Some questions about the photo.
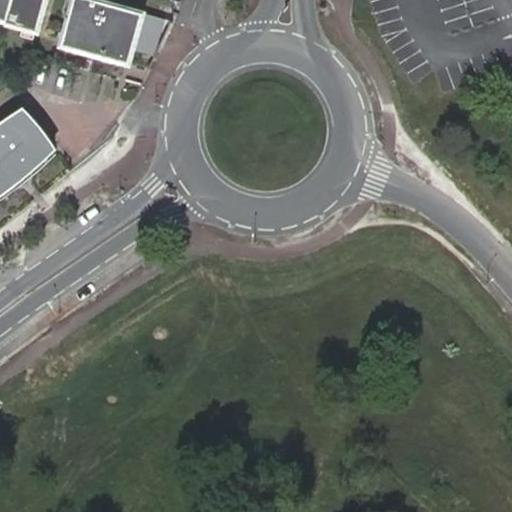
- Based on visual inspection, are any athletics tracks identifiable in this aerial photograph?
No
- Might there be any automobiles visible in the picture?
Yes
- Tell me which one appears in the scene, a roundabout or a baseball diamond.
roundabout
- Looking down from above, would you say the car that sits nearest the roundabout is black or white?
white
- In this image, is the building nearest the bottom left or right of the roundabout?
on its left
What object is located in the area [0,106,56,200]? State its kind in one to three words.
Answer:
building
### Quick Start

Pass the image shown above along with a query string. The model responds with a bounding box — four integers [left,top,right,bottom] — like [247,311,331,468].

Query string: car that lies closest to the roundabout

[77,205,100,225]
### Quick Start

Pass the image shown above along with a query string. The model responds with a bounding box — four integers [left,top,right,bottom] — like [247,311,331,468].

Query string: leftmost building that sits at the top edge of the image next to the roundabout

[58,0,146,65]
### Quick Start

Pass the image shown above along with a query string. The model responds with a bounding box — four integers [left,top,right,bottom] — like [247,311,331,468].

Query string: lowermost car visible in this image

[76,283,96,300]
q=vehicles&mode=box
[77,205,100,225]
[56,68,66,89]
[76,283,96,300]
[34,66,48,86]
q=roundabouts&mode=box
[114,20,376,240]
